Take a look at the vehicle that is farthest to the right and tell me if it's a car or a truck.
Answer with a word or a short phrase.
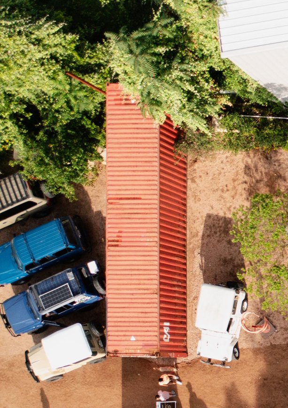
car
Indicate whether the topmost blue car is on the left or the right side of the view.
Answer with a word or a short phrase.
left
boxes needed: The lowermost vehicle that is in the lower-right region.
[193,278,248,374]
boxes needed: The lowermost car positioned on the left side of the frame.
[26,321,115,386]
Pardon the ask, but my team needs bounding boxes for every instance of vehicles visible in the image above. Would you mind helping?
[0,169,75,240]
[26,321,115,386]
[0,213,104,284]
[193,278,248,374]
[1,261,107,336]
